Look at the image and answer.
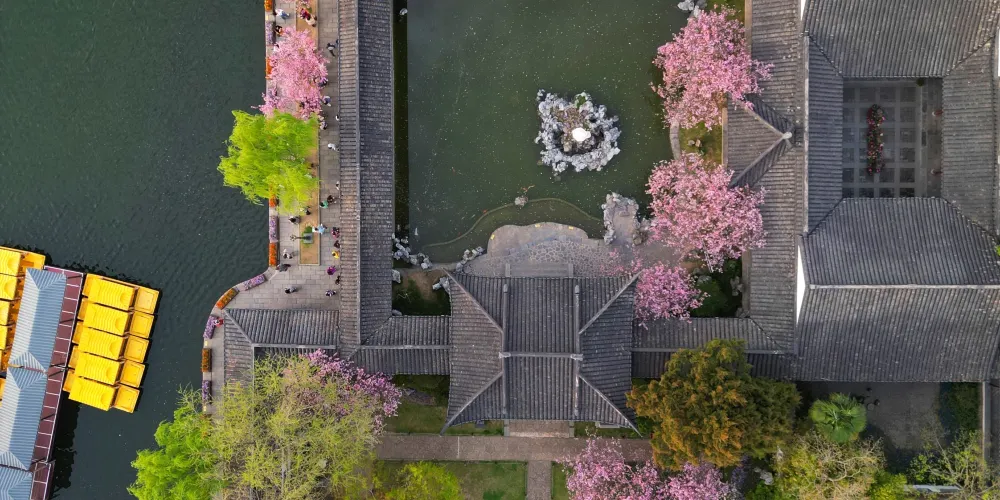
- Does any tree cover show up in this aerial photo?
Yes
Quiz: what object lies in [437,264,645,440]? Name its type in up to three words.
building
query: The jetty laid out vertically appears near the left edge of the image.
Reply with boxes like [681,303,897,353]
[0,266,88,500]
